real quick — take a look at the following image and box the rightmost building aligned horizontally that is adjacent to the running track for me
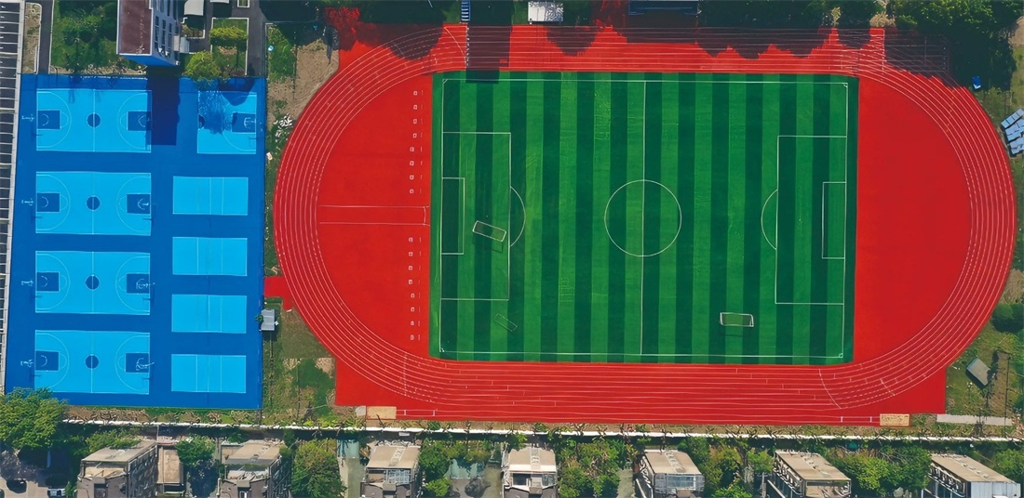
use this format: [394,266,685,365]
[930,460,1020,498]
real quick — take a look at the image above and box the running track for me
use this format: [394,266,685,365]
[264,24,1014,427]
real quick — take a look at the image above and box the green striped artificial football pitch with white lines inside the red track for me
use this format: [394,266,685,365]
[430,70,861,366]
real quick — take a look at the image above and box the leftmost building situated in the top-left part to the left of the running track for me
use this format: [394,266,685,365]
[116,0,179,65]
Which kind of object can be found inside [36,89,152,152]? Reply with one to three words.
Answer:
basketball court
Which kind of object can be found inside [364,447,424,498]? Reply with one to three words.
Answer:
house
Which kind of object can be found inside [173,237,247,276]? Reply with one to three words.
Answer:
sports court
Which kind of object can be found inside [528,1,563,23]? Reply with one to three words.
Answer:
building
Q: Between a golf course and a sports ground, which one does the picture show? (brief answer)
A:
sports ground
